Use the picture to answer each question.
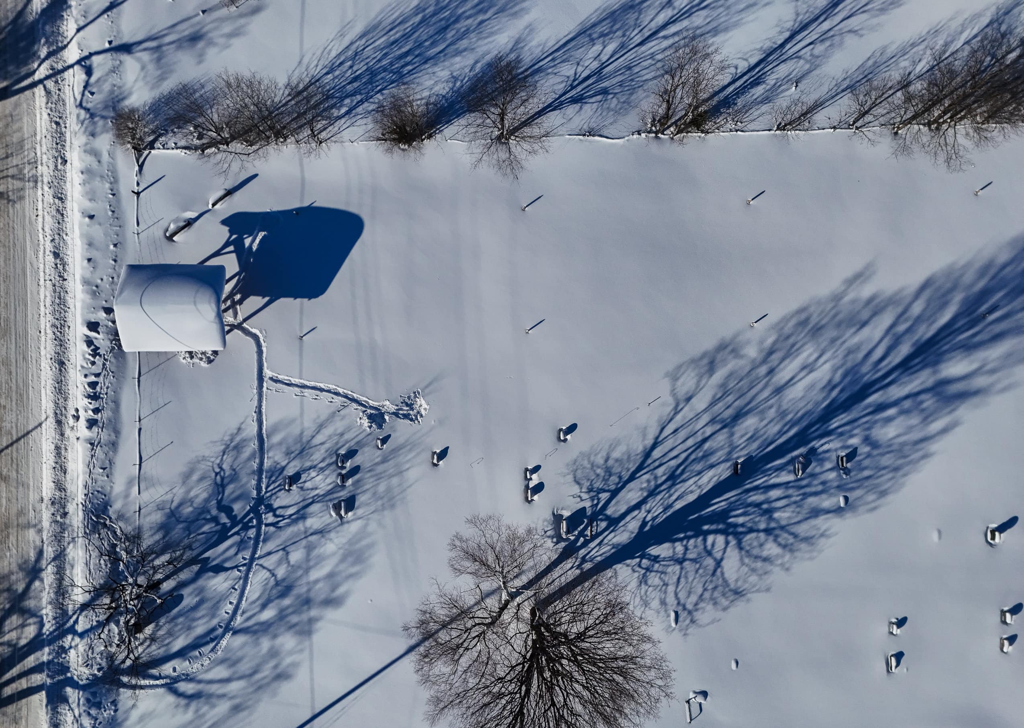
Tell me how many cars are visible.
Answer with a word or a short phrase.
0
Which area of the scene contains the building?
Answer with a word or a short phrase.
left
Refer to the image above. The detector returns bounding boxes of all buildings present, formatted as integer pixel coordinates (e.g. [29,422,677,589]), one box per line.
[114,263,228,352]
